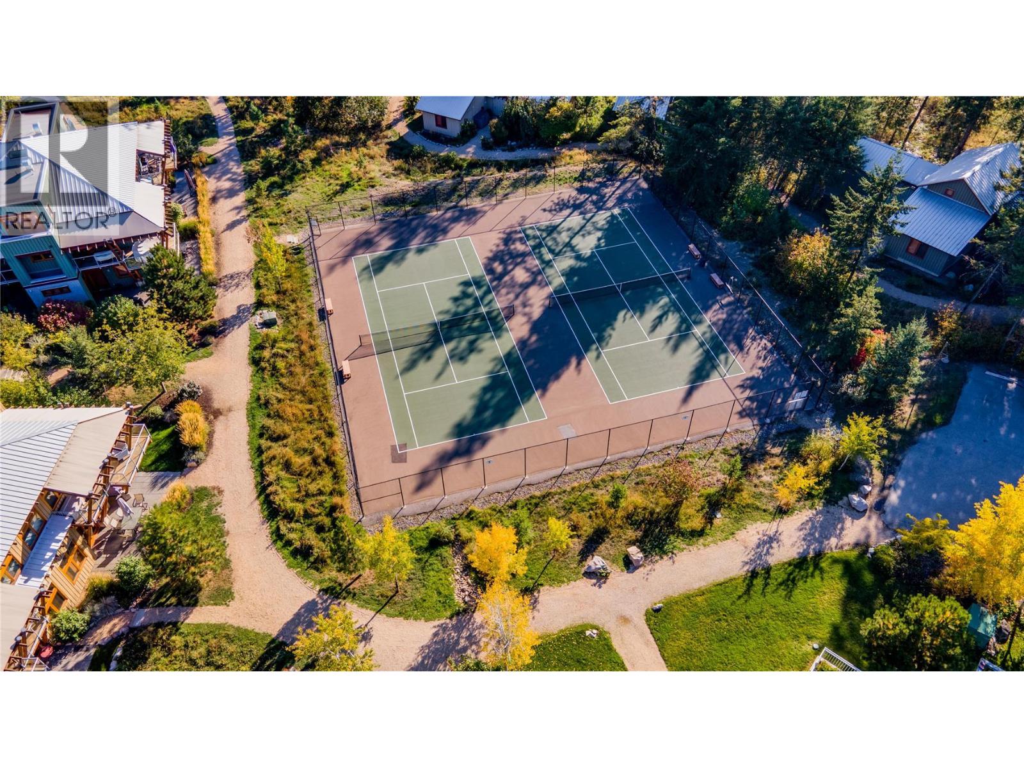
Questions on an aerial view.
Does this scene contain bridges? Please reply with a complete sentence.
No, I can't see a single bridge in this photo.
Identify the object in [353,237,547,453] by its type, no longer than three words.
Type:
tennis court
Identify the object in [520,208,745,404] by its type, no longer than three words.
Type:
tennis court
